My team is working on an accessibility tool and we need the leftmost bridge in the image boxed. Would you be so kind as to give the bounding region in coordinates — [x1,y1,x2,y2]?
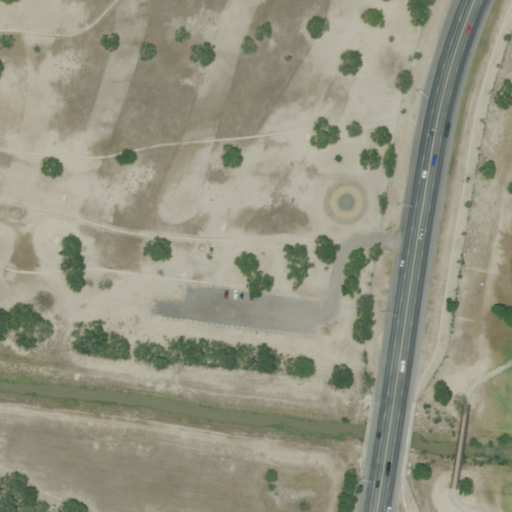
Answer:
[358,396,420,474]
